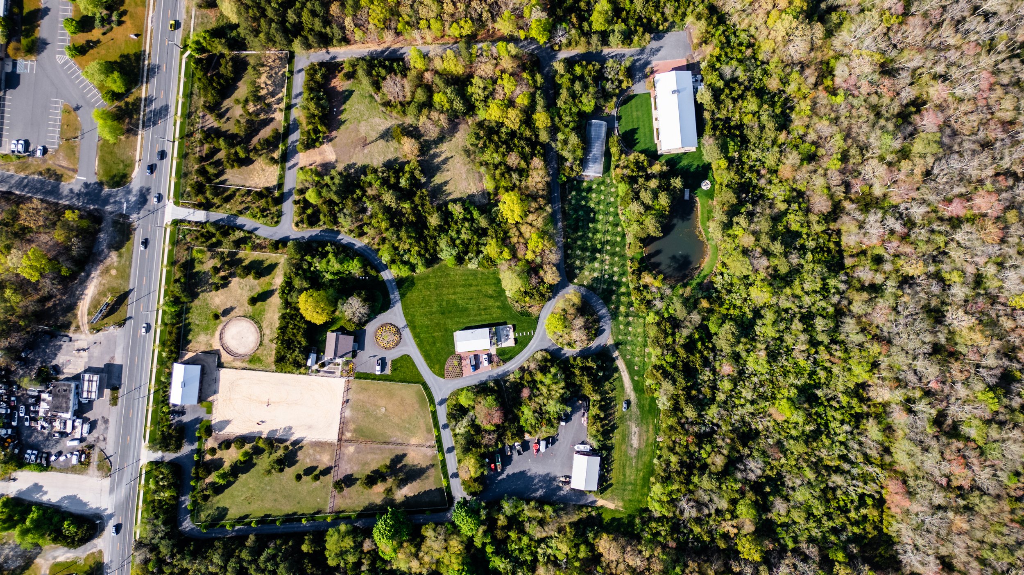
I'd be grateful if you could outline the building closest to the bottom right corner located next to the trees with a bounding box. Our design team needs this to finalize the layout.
[570,452,600,491]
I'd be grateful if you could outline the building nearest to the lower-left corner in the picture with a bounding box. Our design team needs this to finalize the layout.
[40,382,80,419]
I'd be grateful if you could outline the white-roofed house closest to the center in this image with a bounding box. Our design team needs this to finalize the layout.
[455,328,491,352]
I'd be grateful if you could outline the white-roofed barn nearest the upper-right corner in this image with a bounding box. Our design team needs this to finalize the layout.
[652,70,698,151]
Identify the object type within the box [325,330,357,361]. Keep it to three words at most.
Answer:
house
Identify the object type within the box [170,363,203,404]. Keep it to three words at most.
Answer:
building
